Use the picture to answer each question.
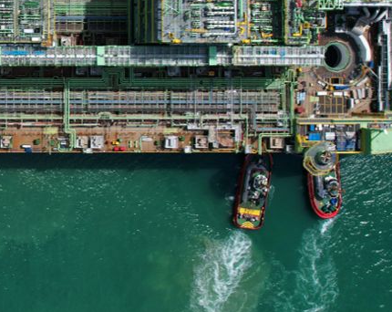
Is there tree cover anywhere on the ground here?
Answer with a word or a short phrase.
No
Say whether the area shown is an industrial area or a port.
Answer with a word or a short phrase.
port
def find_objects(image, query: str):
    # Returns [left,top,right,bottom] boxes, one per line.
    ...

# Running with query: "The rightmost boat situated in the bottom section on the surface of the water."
[302,159,343,221]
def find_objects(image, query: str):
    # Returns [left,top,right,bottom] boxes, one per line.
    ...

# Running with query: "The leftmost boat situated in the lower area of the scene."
[228,153,272,233]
